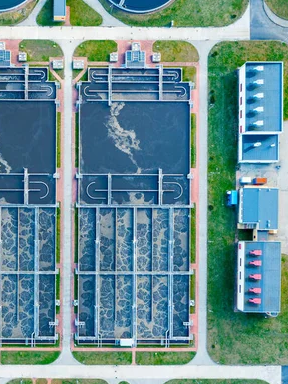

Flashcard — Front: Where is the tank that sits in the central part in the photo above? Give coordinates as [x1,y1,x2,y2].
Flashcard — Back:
[73,62,196,349]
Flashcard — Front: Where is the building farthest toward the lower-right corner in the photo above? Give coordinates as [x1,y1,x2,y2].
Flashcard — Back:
[239,240,282,312]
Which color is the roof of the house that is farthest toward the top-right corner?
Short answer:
blue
